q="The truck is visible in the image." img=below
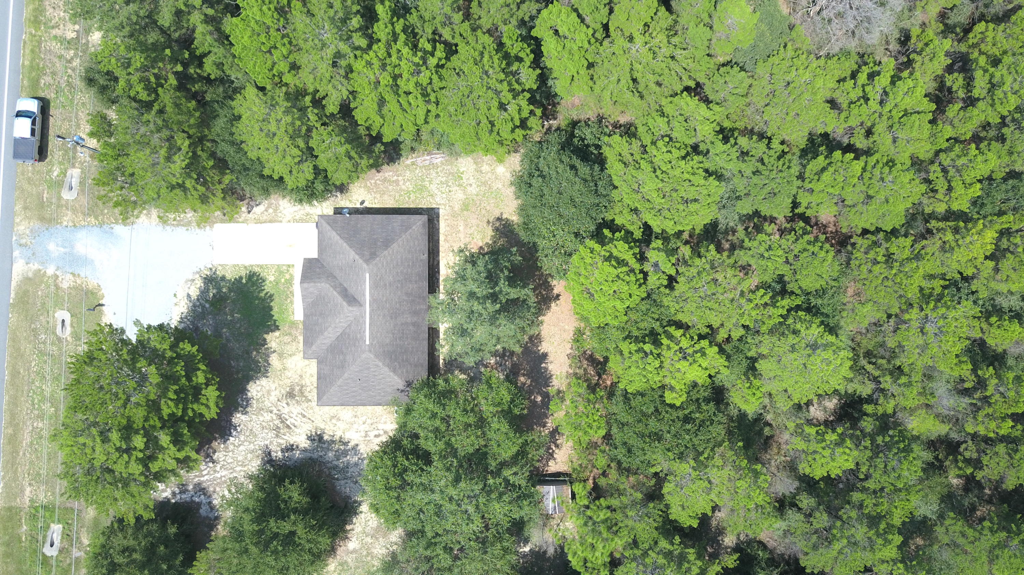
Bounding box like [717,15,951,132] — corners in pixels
[11,98,45,166]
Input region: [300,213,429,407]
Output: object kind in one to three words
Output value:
house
